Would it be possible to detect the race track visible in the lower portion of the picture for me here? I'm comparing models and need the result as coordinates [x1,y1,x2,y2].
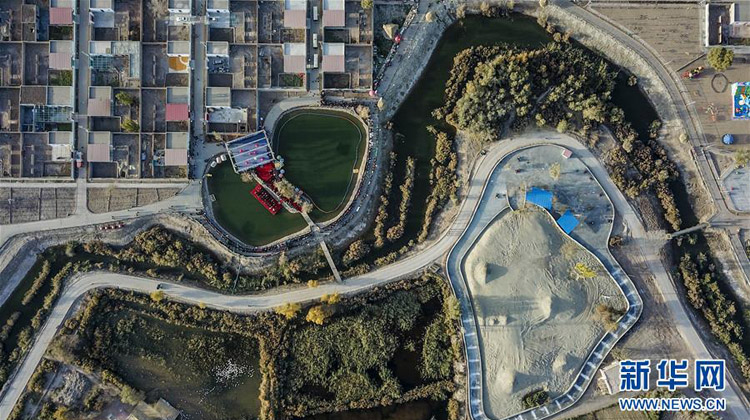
[448,162,639,420]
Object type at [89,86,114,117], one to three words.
house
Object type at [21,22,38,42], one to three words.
shed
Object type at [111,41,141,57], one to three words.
shed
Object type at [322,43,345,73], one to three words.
house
